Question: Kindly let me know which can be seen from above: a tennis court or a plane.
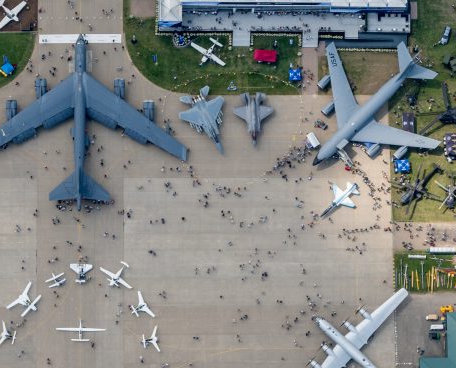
plane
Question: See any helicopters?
Yes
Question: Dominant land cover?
paved ground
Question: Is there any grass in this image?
Yes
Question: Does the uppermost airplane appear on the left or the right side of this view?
left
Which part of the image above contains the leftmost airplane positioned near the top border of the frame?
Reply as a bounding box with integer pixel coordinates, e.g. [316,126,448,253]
[0,0,28,28]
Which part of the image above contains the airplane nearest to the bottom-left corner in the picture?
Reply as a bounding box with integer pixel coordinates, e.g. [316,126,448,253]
[0,319,18,344]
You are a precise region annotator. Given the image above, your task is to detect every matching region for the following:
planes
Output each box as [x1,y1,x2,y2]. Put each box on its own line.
[0,34,186,208]
[98,259,133,288]
[322,176,364,217]
[179,85,225,155]
[141,324,163,352]
[0,319,18,344]
[312,41,443,166]
[233,91,274,146]
[0,0,28,28]
[70,260,92,284]
[190,37,224,66]
[55,319,106,344]
[6,281,41,317]
[301,288,409,368]
[130,289,155,318]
